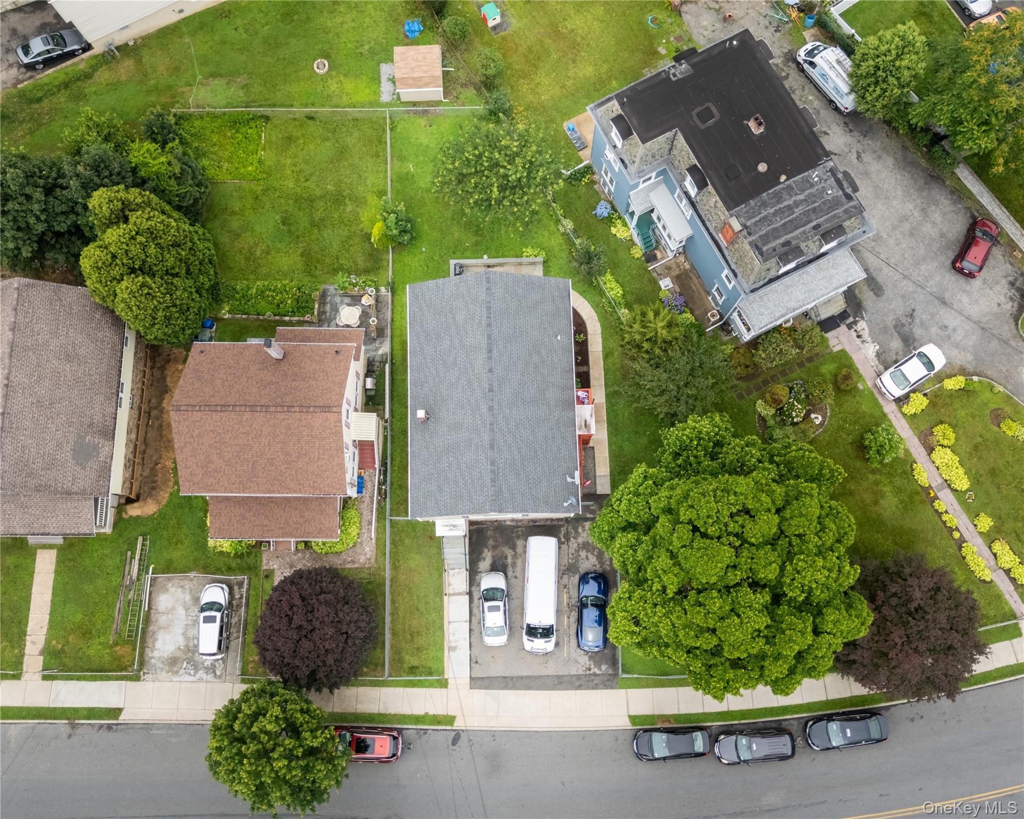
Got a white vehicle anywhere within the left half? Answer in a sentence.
Yes, a white vehicle appears within the left half.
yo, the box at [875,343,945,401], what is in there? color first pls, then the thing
white car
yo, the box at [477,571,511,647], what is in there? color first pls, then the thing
white car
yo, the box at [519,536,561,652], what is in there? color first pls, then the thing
white van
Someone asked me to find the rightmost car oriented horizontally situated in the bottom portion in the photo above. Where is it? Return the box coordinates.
[804,711,890,752]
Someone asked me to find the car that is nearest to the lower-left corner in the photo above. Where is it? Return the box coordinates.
[196,583,235,660]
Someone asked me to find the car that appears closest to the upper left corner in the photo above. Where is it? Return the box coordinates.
[16,27,88,72]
